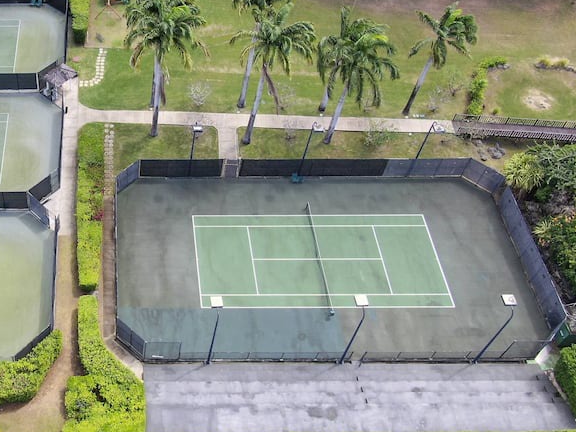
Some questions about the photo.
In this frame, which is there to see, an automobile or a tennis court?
tennis court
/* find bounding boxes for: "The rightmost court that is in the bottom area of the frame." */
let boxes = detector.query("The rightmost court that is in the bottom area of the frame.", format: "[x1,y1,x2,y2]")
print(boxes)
[117,176,562,363]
